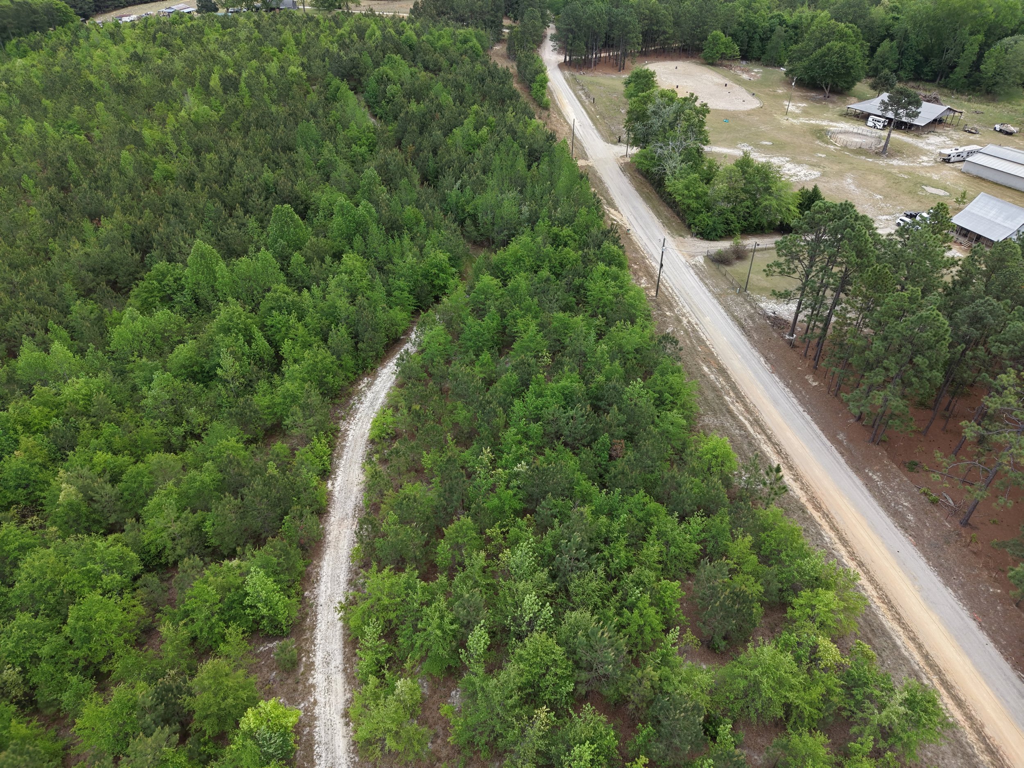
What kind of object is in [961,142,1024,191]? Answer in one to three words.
shed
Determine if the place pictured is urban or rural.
rural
